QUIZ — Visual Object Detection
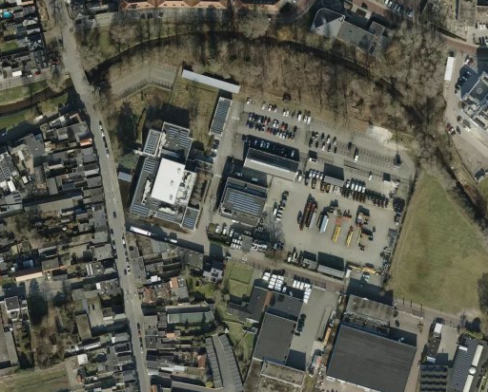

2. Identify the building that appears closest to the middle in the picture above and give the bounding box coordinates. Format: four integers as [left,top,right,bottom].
[219,177,268,226]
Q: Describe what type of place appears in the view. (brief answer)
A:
residential area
